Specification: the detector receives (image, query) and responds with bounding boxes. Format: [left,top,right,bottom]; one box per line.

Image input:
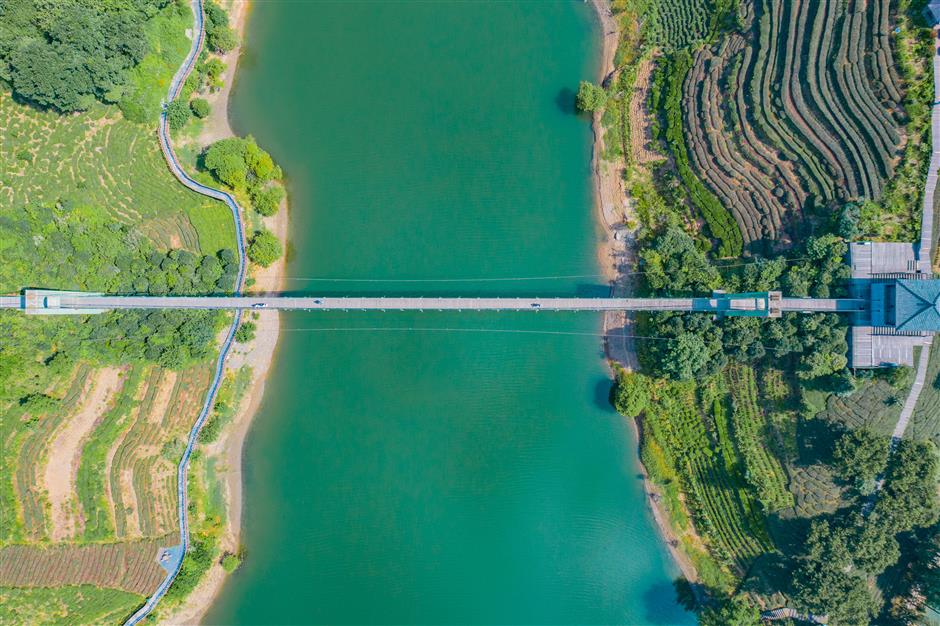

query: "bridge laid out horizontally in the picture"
[0,260,871,354]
